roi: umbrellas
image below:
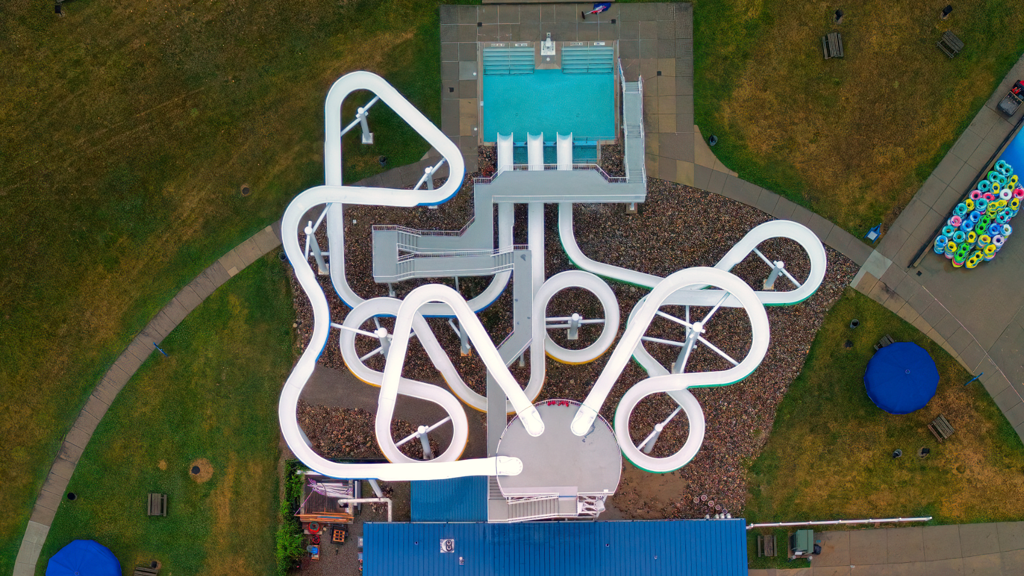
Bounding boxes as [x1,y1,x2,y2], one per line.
[865,344,938,416]
[581,1,610,18]
[47,541,121,576]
